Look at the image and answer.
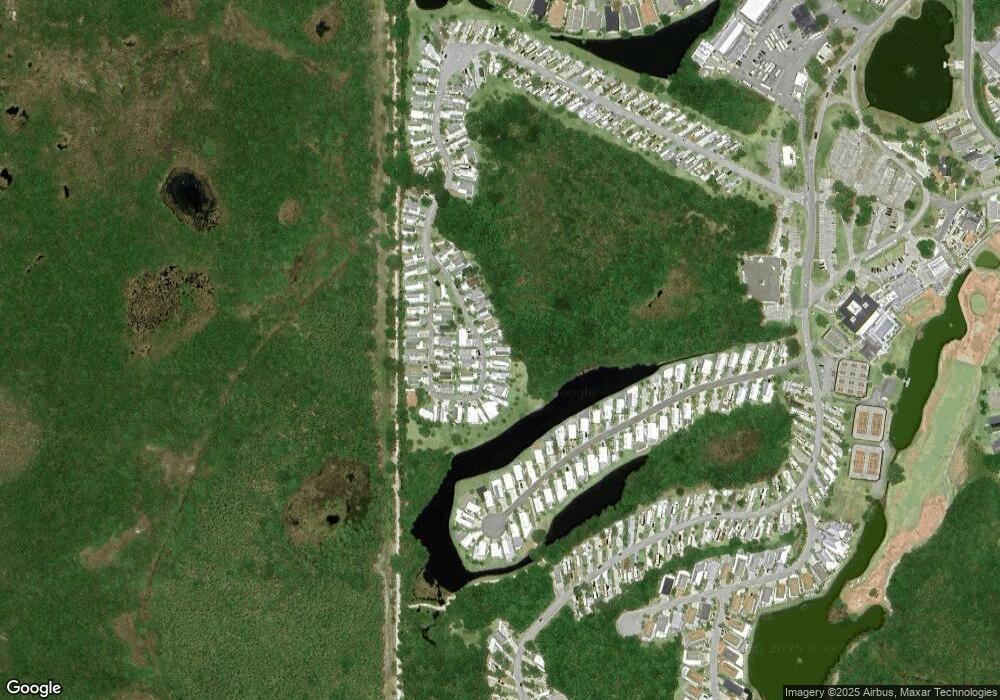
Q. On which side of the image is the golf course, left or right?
right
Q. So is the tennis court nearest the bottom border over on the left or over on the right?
right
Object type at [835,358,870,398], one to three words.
sports court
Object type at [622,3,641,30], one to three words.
house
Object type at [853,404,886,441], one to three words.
tennis court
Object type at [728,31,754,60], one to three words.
shed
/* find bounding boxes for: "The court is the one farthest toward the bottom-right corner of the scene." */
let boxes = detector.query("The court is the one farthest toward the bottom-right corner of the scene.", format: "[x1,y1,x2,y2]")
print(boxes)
[850,444,883,480]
